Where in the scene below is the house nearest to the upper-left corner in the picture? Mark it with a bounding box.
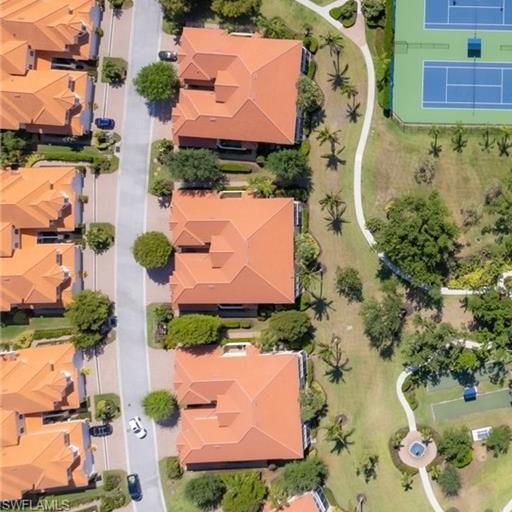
[0,0,104,134]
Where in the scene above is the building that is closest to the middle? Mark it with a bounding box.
[170,191,300,315]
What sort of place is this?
residential area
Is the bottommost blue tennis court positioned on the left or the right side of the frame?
right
